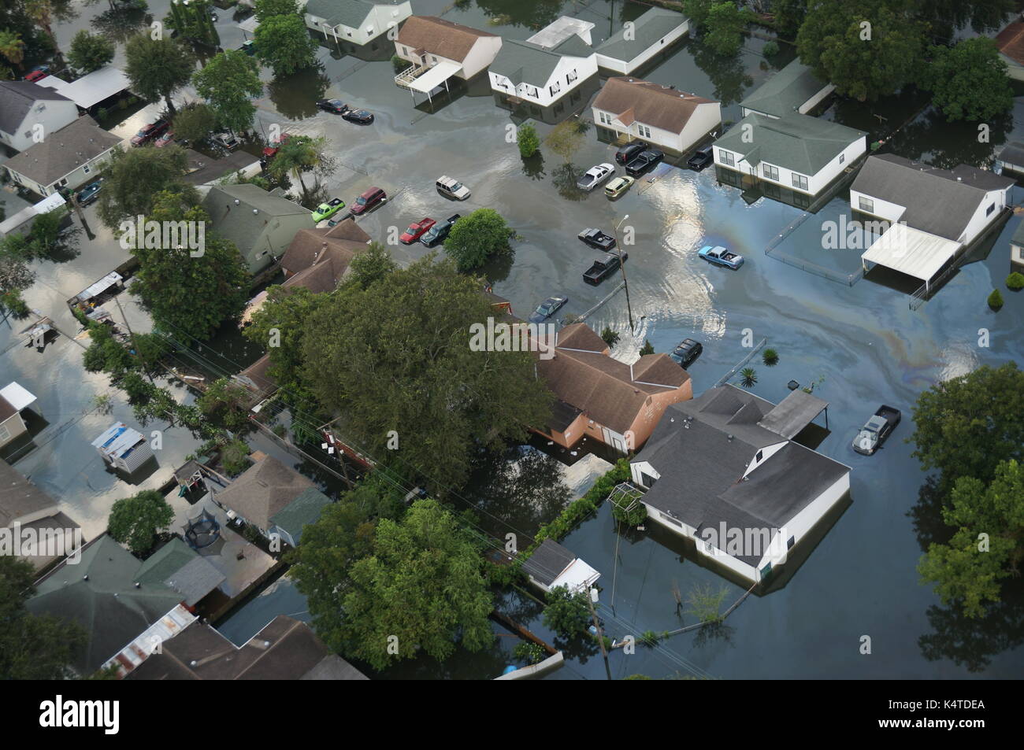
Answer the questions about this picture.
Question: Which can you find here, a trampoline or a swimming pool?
trampoline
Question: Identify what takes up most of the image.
water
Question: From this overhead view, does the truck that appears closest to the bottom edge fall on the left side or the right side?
right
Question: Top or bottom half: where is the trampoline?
bottom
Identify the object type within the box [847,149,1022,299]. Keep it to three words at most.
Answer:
house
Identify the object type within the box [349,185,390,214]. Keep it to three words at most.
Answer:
car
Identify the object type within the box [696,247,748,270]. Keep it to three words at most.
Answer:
truck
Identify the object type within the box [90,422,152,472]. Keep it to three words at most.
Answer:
shed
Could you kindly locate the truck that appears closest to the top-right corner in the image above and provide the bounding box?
[678,143,716,174]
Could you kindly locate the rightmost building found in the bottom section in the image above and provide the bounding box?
[622,374,855,580]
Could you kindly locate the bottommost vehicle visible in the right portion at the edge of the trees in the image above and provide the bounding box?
[846,403,910,459]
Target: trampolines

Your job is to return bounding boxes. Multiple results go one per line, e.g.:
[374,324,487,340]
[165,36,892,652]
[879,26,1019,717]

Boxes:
[178,509,223,557]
